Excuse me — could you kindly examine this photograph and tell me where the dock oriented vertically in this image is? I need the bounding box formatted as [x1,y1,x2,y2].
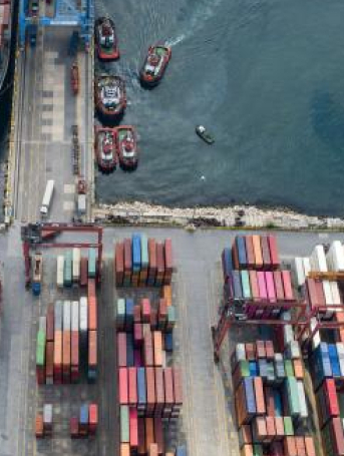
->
[1,0,99,221]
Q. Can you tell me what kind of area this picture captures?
port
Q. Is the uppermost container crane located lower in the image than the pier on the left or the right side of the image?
left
